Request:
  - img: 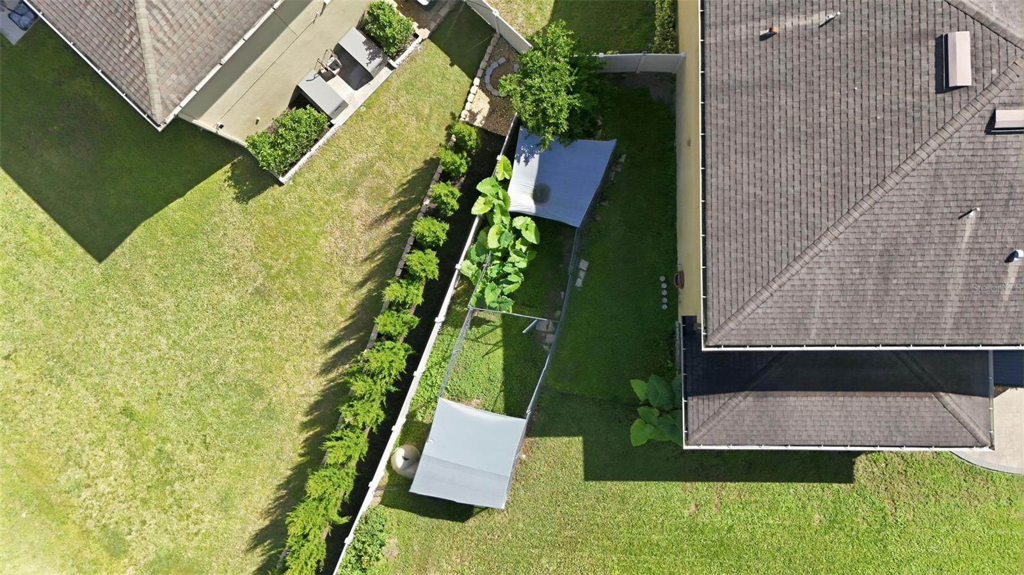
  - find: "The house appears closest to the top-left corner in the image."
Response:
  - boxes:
[23,0,384,149]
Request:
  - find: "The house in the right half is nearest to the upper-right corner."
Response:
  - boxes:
[677,0,1024,452]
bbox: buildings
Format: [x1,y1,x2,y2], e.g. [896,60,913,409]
[23,0,384,149]
[677,0,1024,452]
